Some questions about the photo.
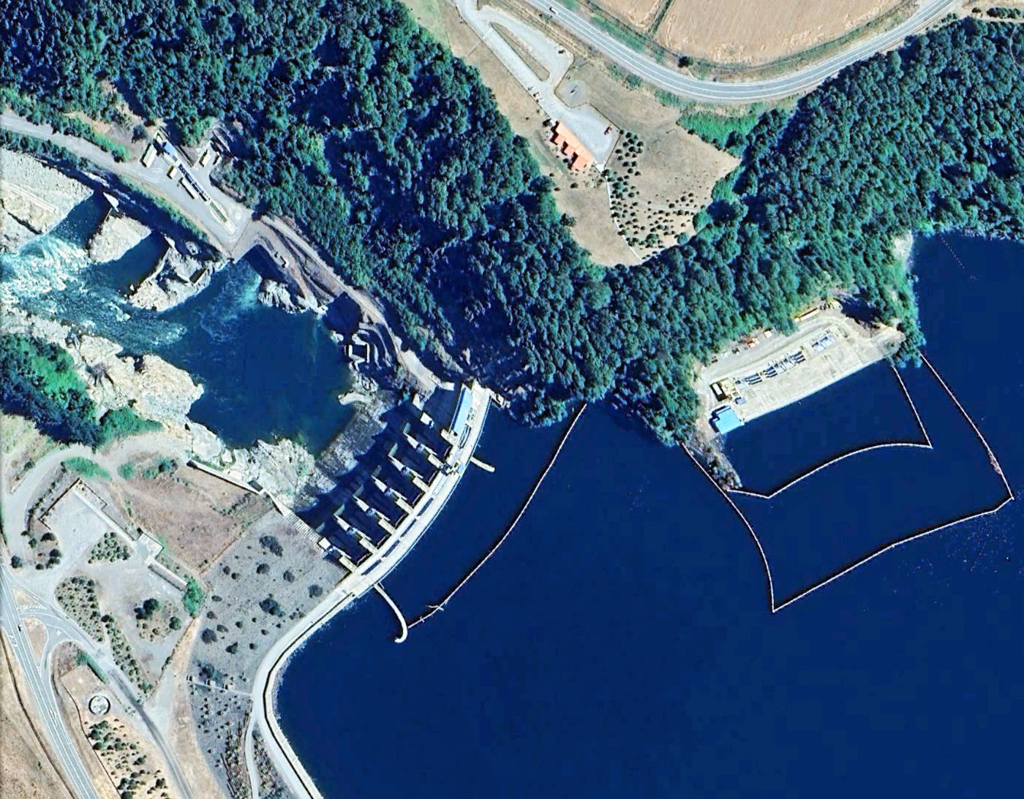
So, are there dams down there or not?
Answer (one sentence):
Yes, you can see a dam in this photo.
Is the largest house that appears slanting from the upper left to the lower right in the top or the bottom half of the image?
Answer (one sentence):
It is in the top half that the largest house that appears slanting from the upper left to the lower right appears.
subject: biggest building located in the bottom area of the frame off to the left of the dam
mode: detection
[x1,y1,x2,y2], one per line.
[149,561,187,590]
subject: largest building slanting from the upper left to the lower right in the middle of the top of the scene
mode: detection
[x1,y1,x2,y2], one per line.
[550,119,593,172]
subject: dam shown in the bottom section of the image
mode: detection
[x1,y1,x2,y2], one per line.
[310,380,506,643]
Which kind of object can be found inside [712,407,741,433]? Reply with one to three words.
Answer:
building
